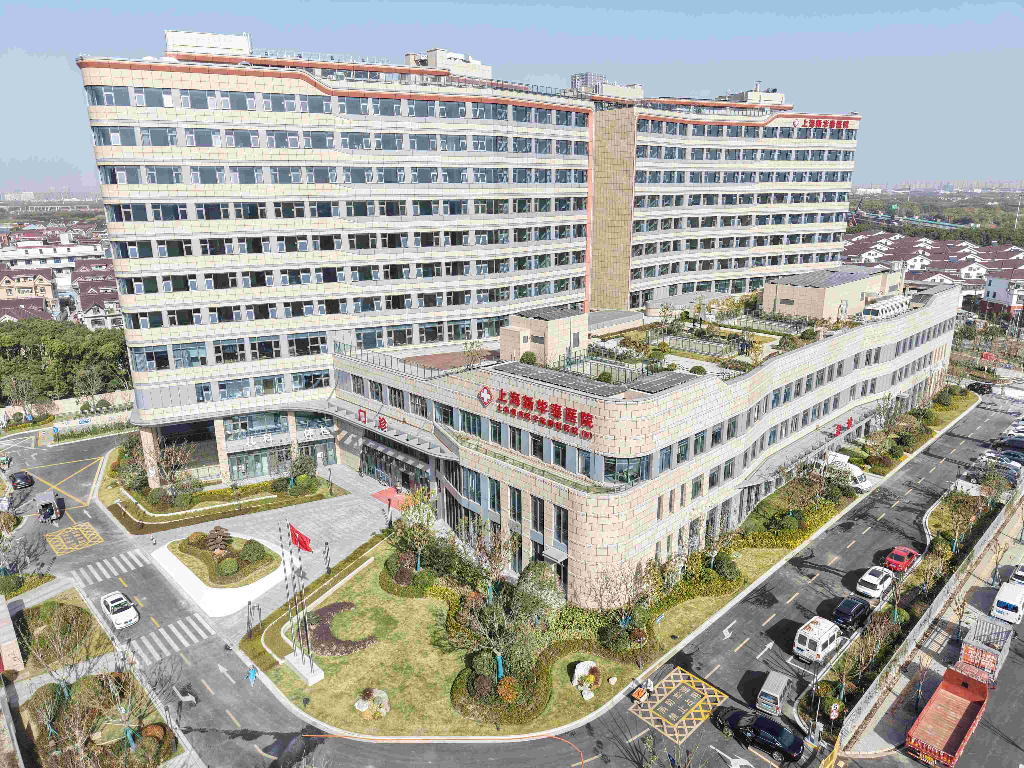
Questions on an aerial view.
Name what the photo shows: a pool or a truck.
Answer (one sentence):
The one in the frame is a truck.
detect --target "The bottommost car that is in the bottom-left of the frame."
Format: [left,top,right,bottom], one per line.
[100,587,138,627]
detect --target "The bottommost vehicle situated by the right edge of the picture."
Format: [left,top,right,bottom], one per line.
[905,657,1000,768]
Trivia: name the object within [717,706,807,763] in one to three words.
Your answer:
car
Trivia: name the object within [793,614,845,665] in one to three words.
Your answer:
van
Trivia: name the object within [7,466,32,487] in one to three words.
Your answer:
car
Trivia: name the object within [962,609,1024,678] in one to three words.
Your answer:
truck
